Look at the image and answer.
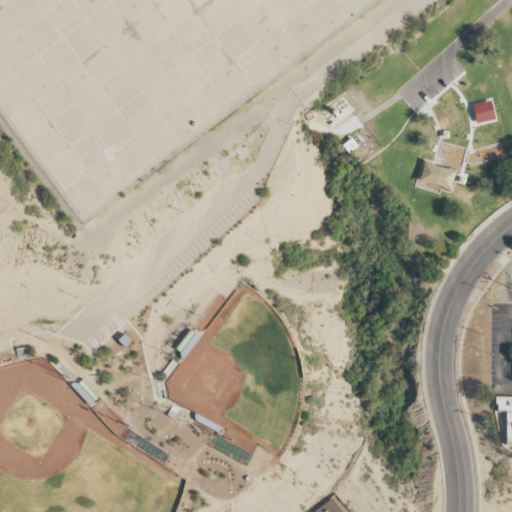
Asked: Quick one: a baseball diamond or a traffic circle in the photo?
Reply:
baseball diamond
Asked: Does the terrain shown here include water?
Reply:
Yes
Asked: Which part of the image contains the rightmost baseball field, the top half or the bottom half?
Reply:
bottom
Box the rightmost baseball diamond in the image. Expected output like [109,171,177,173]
[166,286,302,455]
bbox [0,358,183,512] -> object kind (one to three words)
baseball field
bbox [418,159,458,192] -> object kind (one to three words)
building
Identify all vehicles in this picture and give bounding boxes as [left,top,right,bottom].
[438,78,447,88]
[419,92,428,102]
